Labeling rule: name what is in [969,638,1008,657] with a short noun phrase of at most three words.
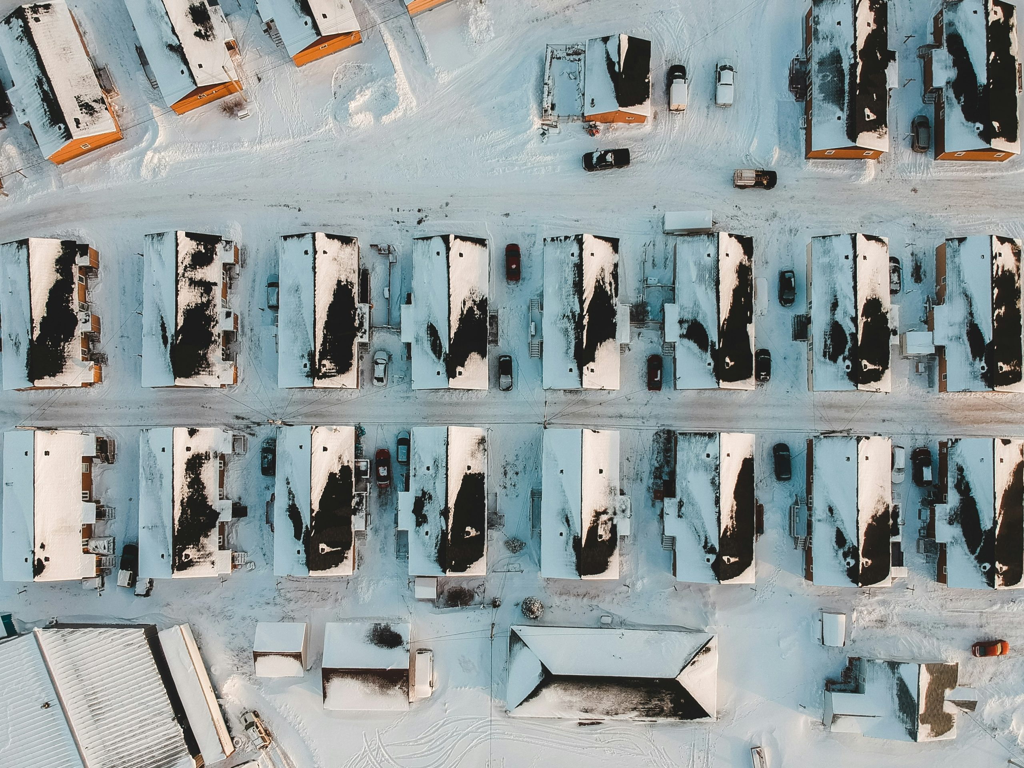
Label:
car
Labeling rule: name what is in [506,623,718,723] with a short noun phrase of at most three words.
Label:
building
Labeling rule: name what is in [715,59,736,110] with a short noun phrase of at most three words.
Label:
truck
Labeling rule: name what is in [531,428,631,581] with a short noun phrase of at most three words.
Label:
house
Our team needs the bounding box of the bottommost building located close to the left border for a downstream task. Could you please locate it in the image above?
[0,620,211,768]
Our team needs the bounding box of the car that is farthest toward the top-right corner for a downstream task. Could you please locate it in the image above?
[910,116,932,154]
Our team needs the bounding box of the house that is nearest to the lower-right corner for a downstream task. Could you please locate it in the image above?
[823,656,978,744]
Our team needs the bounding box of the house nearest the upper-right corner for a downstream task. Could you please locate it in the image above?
[914,0,1024,160]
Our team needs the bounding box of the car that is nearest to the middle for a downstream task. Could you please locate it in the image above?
[496,355,515,392]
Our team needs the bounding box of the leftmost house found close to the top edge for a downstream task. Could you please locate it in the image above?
[0,0,124,164]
